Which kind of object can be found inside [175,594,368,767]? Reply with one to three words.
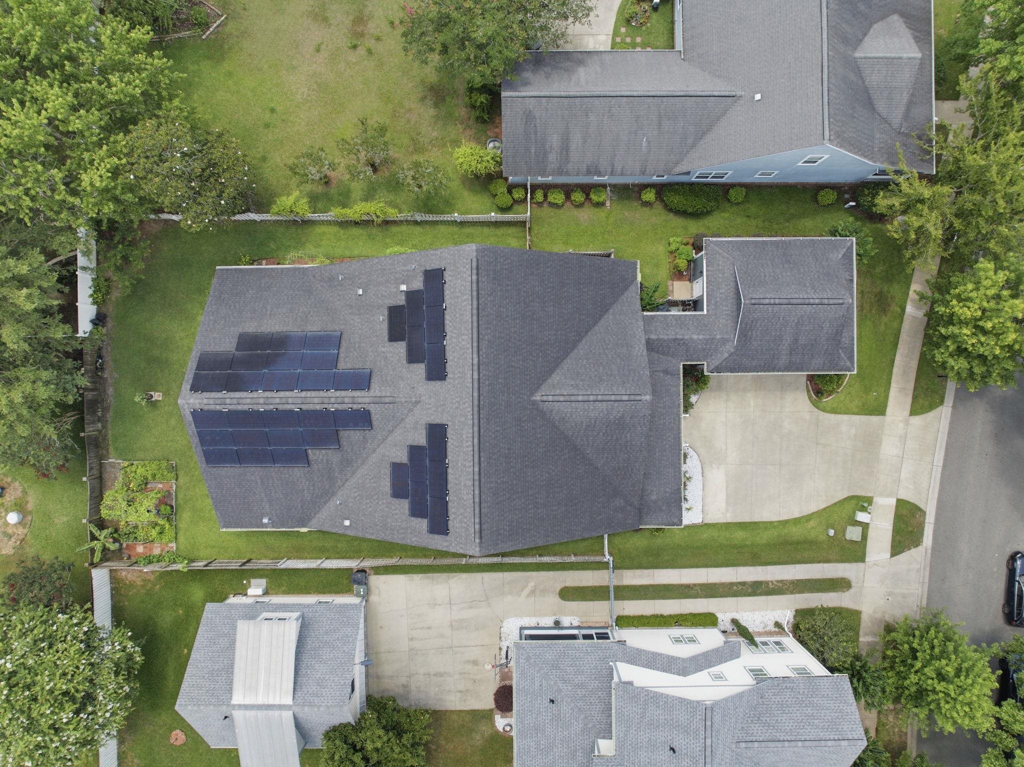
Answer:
building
